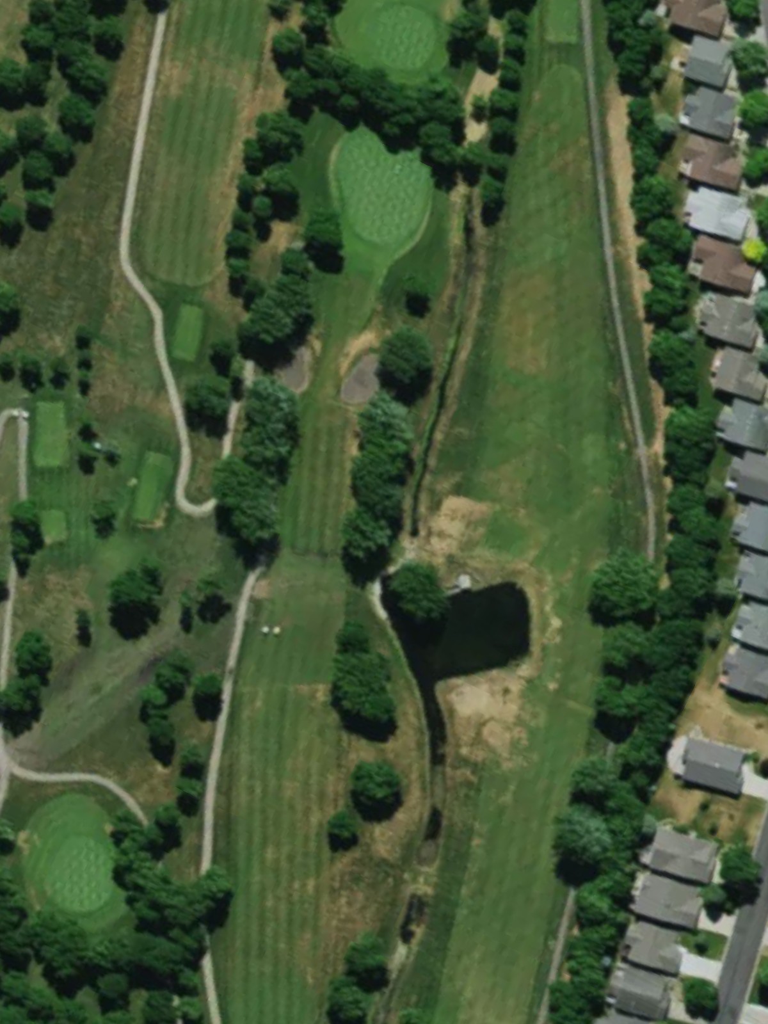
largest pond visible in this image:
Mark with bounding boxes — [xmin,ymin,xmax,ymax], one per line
[381,565,531,768]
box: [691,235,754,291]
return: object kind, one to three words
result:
house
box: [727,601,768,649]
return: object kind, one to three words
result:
house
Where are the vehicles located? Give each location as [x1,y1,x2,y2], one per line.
[274,626,279,634]
[262,627,270,632]
[94,442,102,449]
[22,411,30,417]
[11,410,19,415]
